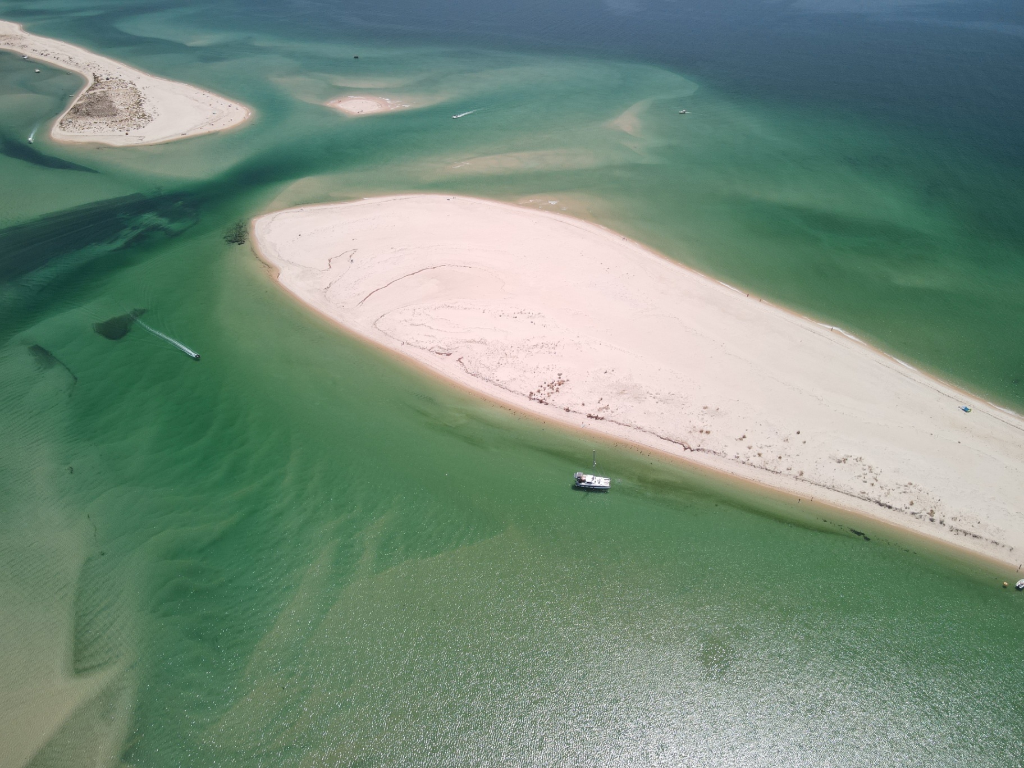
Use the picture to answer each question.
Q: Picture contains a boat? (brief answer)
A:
Yes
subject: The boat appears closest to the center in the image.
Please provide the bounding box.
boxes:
[573,450,612,490]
